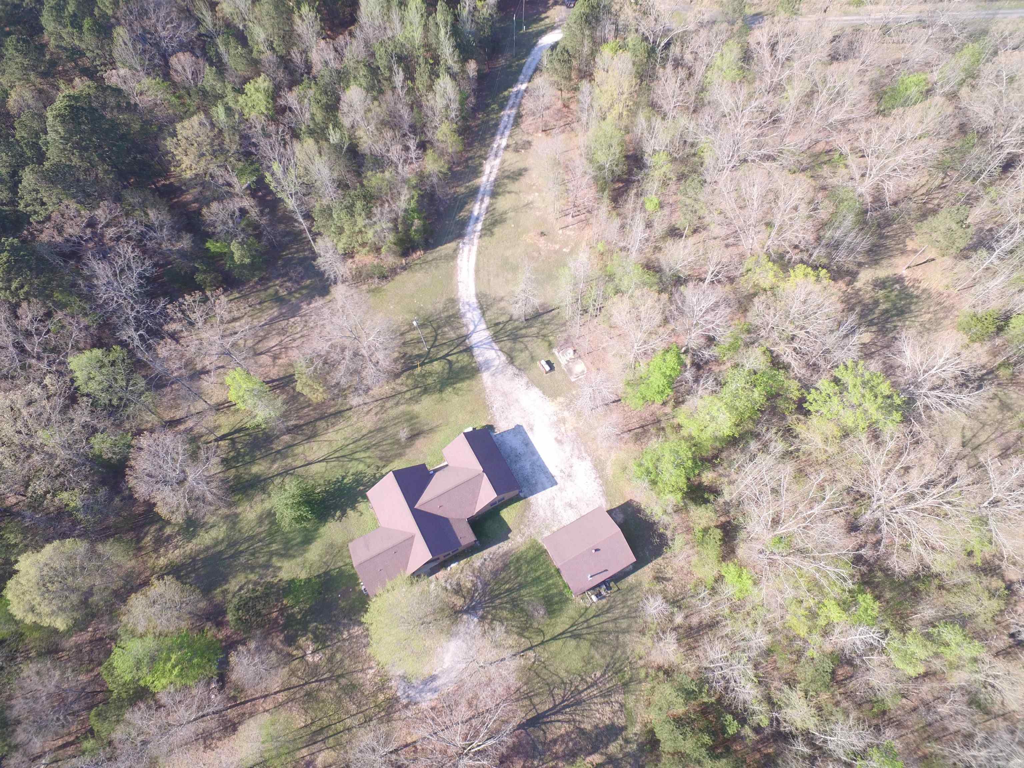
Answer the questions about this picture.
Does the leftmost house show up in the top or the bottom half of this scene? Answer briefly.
bottom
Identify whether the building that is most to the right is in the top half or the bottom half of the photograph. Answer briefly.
bottom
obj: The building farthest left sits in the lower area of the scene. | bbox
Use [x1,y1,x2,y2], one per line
[349,425,521,597]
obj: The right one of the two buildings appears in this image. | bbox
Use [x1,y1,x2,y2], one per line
[542,506,637,597]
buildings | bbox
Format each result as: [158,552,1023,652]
[349,425,521,597]
[542,506,637,597]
